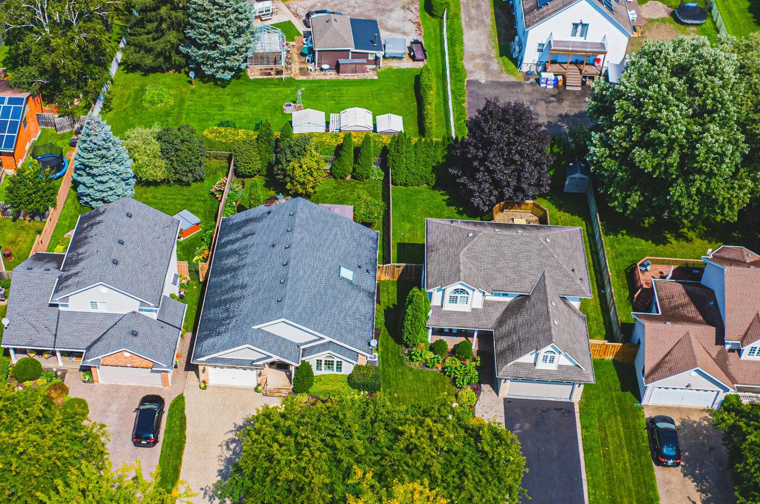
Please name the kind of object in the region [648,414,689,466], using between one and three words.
car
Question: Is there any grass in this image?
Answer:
Yes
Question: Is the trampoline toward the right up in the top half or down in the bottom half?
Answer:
top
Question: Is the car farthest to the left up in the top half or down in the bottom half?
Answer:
bottom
